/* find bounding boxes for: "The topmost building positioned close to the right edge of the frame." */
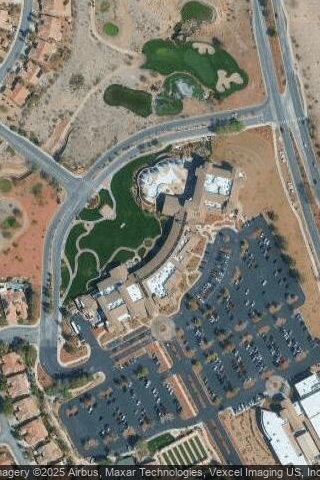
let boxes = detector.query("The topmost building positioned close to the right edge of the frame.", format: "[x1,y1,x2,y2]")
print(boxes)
[294,376,320,401]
